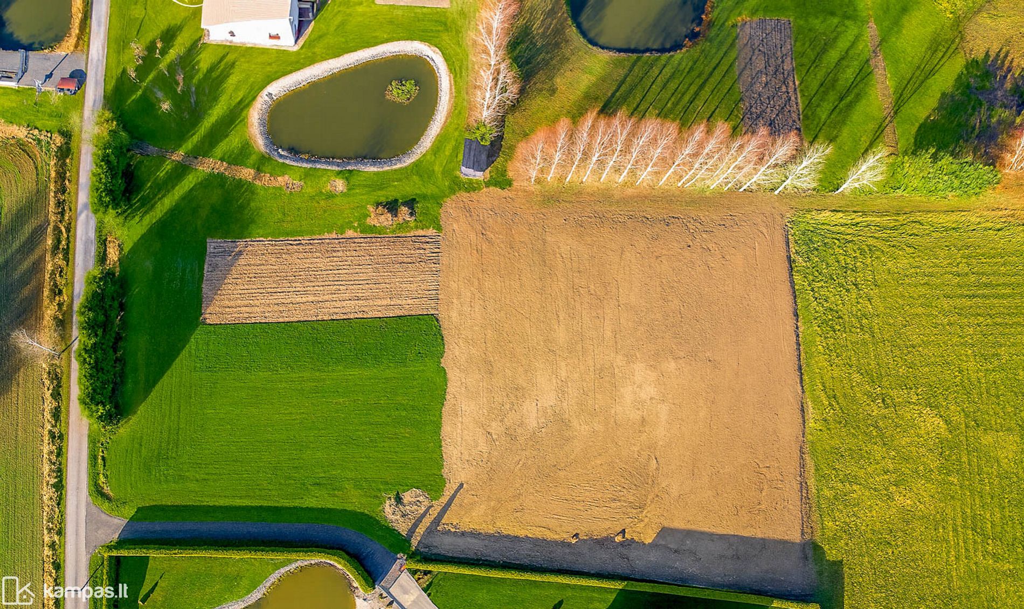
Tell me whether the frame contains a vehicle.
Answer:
No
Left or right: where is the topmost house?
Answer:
left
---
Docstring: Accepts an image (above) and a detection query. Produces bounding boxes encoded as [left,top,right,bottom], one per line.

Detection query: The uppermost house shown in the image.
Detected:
[196,0,313,47]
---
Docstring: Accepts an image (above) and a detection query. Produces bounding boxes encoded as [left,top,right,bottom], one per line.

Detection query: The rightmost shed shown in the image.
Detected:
[462,137,488,177]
